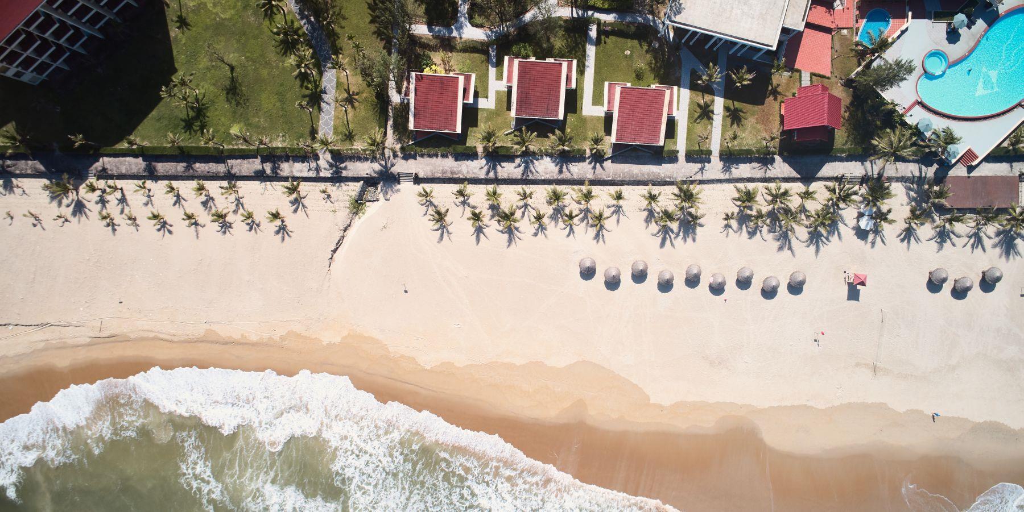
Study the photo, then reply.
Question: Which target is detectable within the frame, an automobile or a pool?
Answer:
pool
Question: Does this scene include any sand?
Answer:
Yes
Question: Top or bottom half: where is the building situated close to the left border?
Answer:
top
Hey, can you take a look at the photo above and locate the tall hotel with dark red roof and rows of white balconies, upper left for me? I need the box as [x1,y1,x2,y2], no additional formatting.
[0,0,138,87]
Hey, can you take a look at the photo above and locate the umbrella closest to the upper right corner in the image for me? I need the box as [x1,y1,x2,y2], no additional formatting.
[951,14,966,29]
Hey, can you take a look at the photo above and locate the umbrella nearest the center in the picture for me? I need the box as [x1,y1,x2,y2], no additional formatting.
[578,256,597,275]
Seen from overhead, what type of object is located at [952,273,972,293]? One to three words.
umbrella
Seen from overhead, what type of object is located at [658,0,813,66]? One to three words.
building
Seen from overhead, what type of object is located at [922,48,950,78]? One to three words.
swimming pool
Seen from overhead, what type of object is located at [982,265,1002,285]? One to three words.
umbrella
